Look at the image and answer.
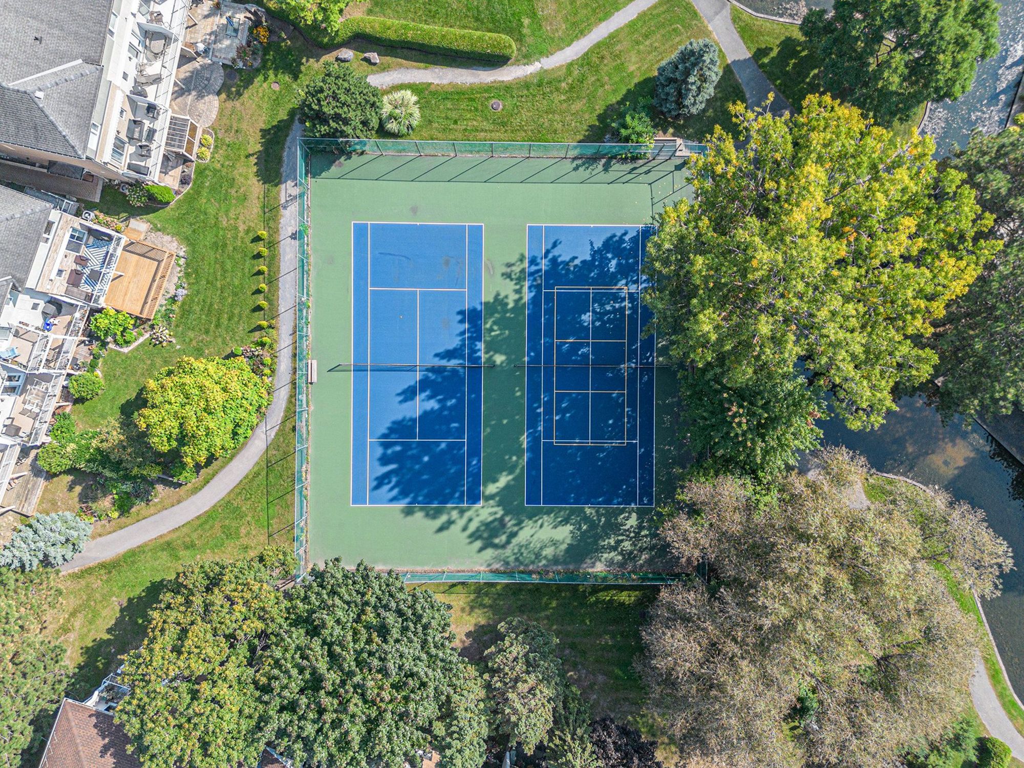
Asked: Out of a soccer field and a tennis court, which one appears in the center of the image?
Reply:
tennis court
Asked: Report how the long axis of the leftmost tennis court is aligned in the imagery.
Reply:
from top to bottom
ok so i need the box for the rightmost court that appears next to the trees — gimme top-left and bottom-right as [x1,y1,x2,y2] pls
[525,224,657,507]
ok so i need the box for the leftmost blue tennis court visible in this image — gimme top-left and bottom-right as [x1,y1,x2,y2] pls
[351,222,484,506]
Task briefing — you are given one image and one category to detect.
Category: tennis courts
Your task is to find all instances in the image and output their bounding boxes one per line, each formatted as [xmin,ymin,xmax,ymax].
[351,222,484,506]
[525,224,657,507]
